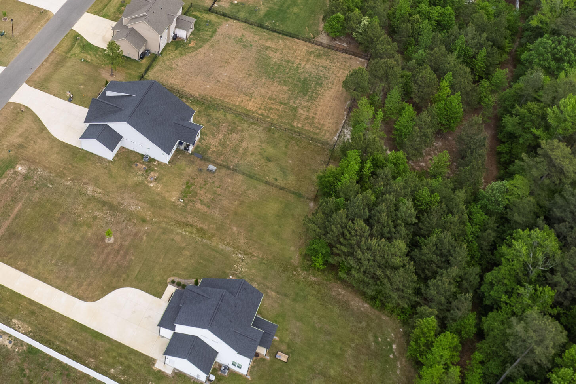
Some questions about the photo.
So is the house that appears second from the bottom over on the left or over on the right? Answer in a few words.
left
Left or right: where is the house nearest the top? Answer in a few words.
left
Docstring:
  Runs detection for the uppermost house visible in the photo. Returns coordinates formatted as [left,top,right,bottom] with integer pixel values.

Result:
[111,0,197,60]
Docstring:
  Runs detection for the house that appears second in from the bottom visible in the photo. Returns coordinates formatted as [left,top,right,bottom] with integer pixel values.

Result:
[79,79,204,165]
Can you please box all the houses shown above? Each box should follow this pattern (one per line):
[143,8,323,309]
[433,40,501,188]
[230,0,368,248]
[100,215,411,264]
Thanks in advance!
[111,0,197,60]
[79,79,204,165]
[156,274,278,384]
